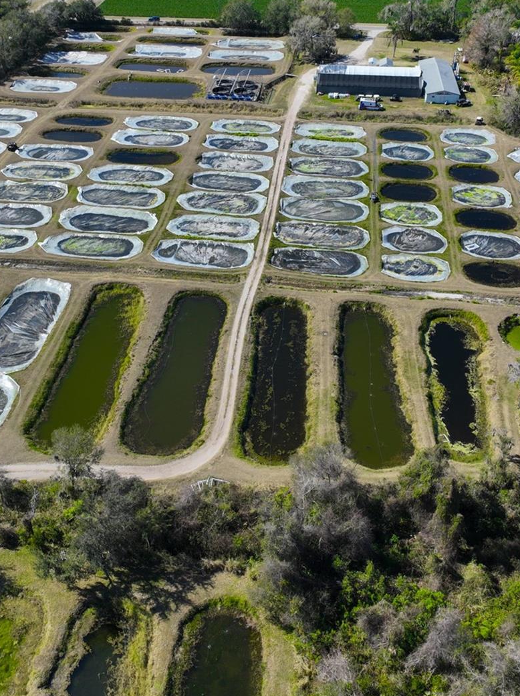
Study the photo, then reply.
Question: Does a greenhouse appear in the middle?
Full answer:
No, no greenhouse can be made out in the middle.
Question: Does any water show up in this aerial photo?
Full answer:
Yes, there is water in the image.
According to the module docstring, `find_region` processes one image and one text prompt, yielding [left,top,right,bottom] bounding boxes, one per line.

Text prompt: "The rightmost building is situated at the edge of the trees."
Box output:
[407,49,465,103]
